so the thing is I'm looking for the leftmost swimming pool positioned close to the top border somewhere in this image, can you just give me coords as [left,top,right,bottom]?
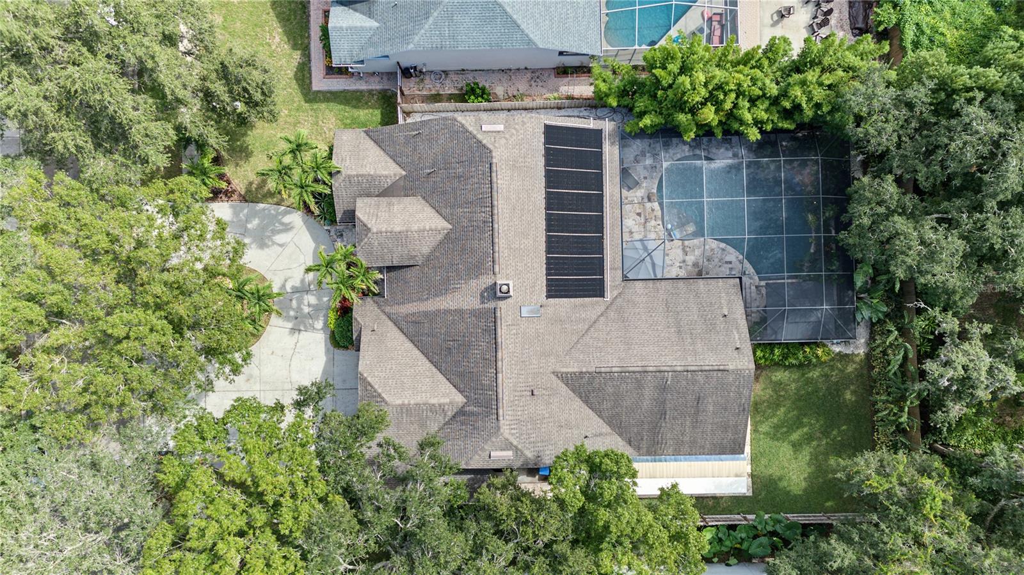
[603,0,703,56]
